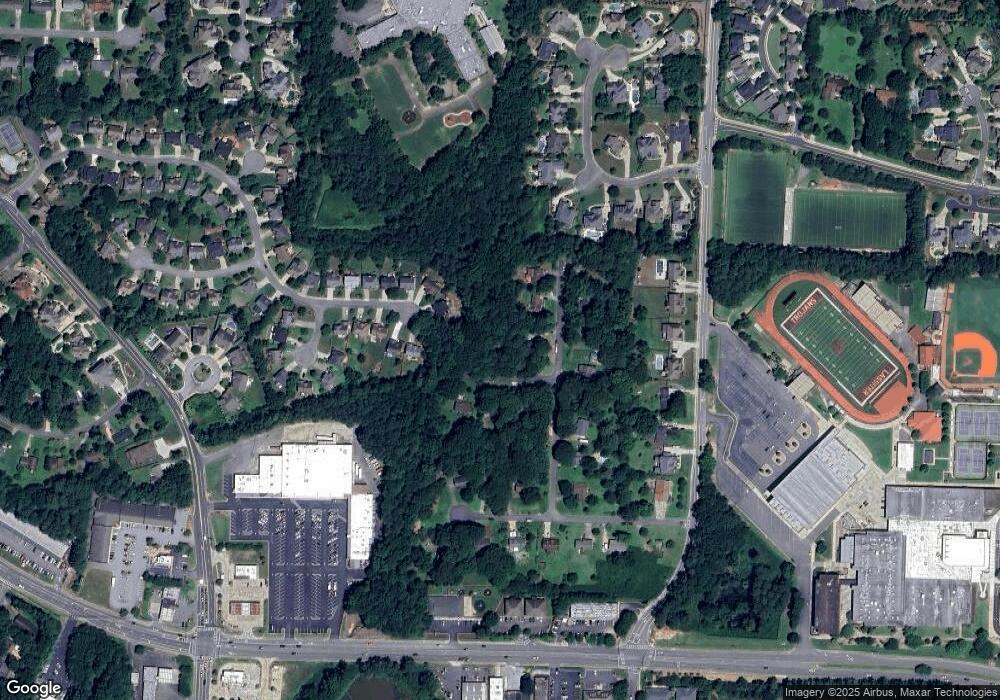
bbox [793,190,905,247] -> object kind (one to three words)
sports field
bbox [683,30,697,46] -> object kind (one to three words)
swimming pool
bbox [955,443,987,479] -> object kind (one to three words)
tennis court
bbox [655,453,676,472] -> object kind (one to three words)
house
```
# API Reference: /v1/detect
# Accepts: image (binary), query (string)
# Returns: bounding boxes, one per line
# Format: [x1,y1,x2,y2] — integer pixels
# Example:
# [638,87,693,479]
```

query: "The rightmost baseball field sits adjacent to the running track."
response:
[942,284,1000,391]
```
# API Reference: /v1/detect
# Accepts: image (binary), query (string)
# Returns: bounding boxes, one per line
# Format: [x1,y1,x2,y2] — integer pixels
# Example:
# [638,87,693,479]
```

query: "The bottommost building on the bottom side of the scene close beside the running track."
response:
[841,487,1000,627]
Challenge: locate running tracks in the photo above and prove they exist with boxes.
[744,271,910,425]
